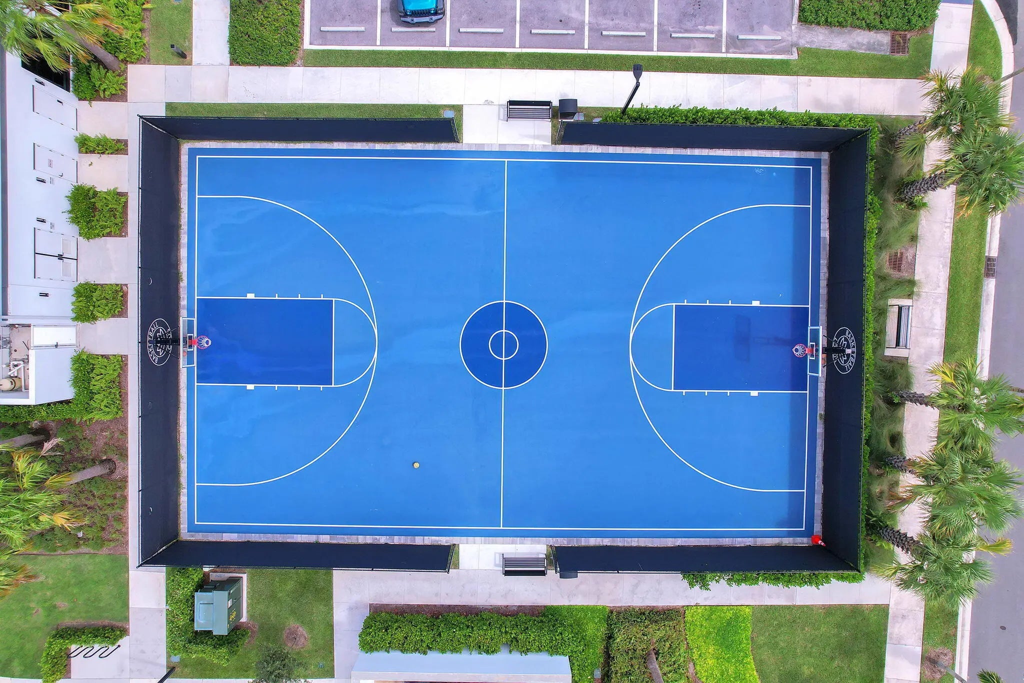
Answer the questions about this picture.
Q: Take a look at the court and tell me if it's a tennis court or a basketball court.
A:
basketball court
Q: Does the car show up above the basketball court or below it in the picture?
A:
above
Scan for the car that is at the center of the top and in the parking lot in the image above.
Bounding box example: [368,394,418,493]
[398,0,446,26]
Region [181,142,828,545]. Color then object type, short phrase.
blue basketball court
